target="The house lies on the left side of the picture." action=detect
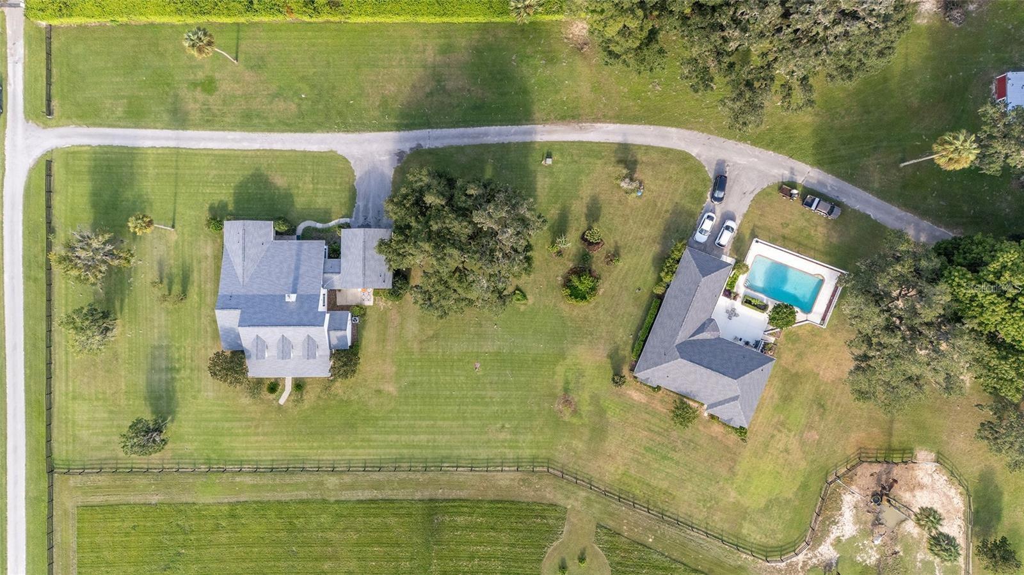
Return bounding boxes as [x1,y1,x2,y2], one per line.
[215,220,393,377]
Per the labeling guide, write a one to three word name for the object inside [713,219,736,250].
car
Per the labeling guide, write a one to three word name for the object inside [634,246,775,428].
house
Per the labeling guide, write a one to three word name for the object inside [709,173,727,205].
car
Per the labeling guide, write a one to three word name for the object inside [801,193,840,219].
truck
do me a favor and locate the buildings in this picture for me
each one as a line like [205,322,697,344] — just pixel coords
[634,246,775,428]
[994,68,1024,119]
[215,220,393,377]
